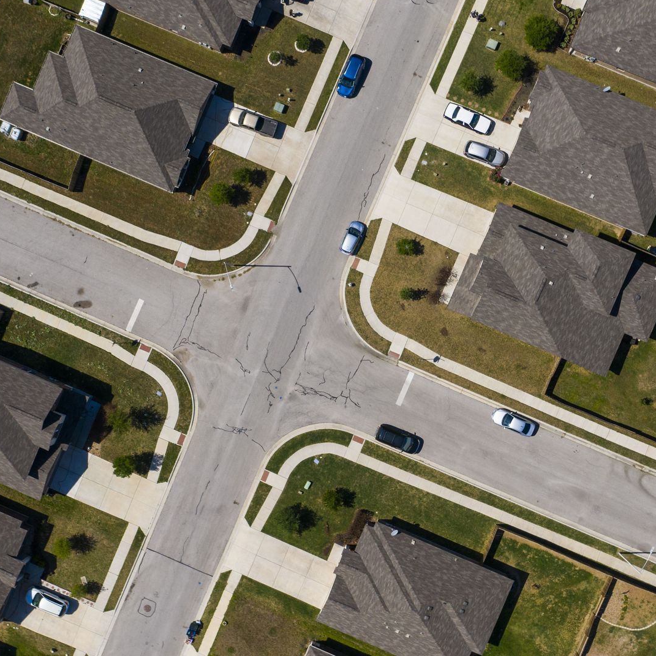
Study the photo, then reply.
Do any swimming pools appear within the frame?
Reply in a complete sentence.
No, no swimming pool can be seen from above.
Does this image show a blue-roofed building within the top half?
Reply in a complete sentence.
No, no blue-roofed building appears within the top half.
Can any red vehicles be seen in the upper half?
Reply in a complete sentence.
No, no red vehicle appears in the upper half.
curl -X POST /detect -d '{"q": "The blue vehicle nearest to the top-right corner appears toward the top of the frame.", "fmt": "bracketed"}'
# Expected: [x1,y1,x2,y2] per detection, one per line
[334,52,368,99]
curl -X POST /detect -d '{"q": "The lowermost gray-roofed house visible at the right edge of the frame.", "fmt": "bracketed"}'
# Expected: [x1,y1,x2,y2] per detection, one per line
[447,203,656,376]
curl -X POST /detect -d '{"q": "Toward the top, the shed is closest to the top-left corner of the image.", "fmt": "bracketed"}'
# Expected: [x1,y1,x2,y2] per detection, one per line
[75,0,106,25]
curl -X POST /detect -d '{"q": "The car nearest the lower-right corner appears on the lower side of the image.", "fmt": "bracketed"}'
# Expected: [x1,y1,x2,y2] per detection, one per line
[489,408,538,439]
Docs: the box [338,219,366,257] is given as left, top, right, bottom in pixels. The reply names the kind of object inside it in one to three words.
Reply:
car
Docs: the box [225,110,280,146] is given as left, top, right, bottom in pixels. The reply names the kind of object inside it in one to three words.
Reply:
truck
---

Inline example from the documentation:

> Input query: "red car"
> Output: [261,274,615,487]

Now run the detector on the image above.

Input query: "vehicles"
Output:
[442,102,494,137]
[24,588,69,620]
[338,219,366,257]
[375,422,424,455]
[489,408,538,439]
[464,138,508,169]
[225,110,280,146]
[334,52,368,99]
